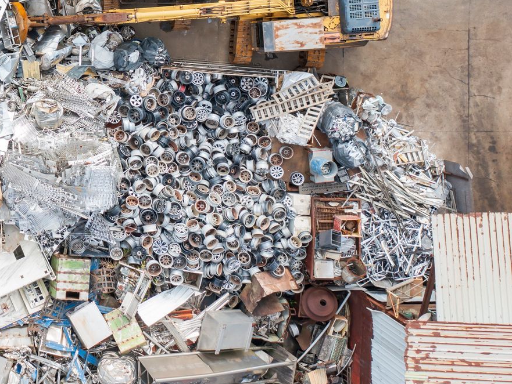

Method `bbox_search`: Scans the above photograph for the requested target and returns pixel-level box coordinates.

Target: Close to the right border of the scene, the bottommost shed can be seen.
[404,321,512,384]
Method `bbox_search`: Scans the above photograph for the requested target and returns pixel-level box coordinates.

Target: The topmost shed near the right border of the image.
[431,212,512,324]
